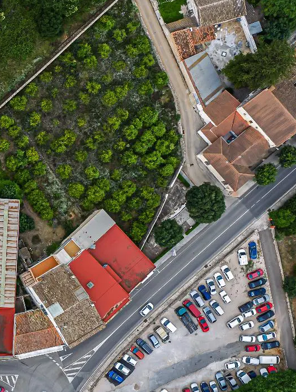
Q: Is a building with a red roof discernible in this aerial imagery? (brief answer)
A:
Yes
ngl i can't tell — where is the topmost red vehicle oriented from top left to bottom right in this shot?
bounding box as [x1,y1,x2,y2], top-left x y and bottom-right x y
[185,300,199,315]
